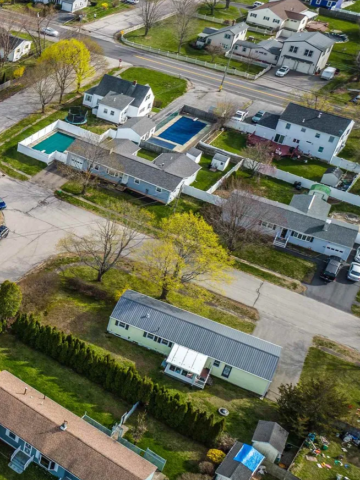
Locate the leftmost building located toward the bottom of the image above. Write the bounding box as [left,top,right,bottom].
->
[0,370,159,480]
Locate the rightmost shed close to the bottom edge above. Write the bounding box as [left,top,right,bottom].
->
[251,421,288,465]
